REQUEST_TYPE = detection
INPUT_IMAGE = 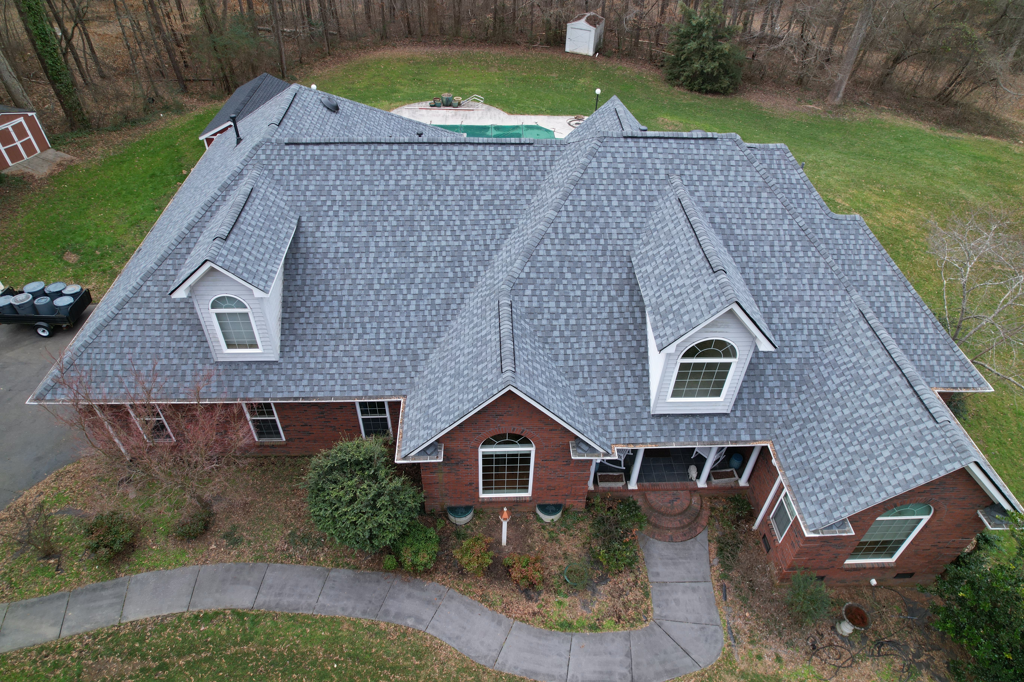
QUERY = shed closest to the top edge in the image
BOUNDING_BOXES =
[565,11,607,56]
